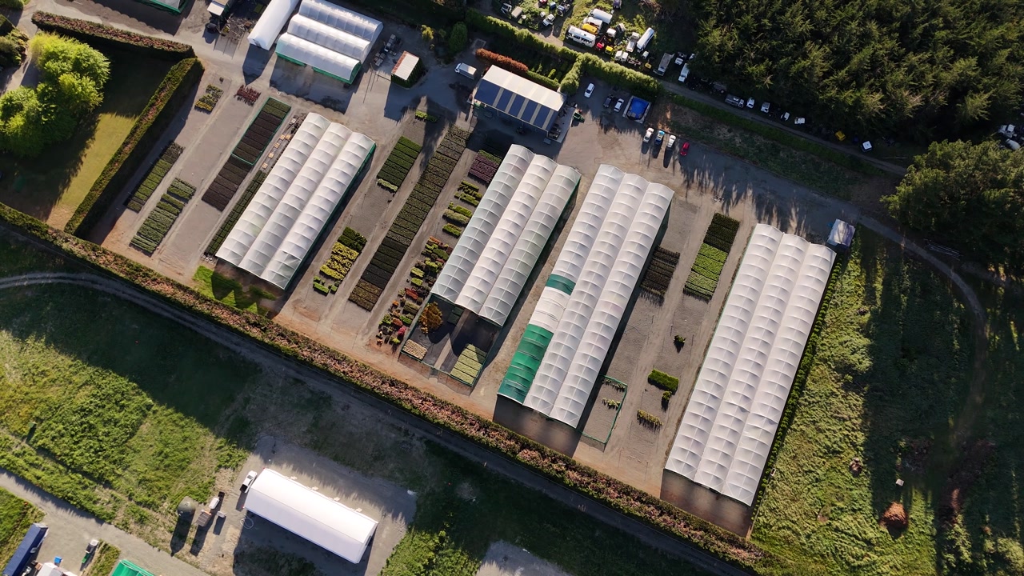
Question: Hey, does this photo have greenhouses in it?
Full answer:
Yes, there's a greenhouse down there.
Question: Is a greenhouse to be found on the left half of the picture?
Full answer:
Yes, looking on the left half of the picture, one can make out a greenhouse.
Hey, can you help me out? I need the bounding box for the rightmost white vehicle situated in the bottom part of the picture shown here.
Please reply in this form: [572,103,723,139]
[240,469,258,491]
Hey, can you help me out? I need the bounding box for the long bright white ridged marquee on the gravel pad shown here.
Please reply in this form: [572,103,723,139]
[243,468,379,564]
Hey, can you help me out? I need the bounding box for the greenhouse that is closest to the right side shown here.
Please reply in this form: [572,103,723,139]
[663,223,836,507]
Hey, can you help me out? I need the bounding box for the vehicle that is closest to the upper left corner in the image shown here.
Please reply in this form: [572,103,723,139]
[456,63,477,79]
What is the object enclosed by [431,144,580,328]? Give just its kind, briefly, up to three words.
greenhouse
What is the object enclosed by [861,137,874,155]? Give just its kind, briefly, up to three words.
vehicle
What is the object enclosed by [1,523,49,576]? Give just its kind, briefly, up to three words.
trailer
